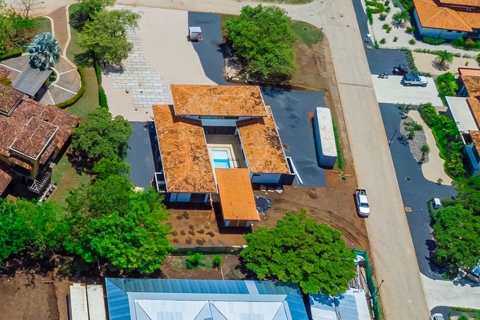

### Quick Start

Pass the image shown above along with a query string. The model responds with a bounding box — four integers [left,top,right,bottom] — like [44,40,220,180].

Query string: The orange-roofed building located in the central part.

[152,84,289,206]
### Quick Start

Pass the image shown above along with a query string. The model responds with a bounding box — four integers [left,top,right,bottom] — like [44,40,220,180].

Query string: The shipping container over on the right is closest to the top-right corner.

[311,107,337,168]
